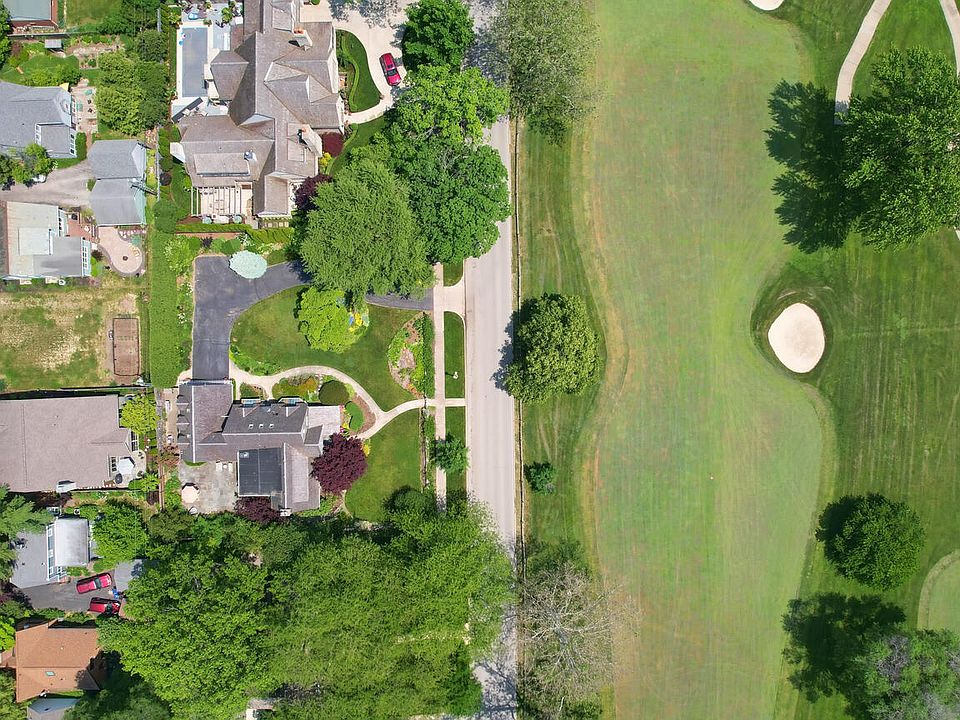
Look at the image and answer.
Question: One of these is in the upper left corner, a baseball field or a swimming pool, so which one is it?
swimming pool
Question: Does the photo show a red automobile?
Yes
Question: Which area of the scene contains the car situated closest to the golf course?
top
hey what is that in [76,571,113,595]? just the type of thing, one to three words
car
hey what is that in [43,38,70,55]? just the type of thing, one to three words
shed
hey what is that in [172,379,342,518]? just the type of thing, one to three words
house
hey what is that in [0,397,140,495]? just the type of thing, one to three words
house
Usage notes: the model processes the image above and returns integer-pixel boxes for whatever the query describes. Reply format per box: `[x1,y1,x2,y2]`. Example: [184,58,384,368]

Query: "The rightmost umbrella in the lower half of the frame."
[181,485,200,503]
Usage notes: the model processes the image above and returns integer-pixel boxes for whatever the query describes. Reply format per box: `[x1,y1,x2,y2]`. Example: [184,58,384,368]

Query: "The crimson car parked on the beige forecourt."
[378,51,402,87]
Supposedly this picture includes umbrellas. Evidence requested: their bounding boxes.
[113,473,128,484]
[116,458,137,475]
[181,485,200,503]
